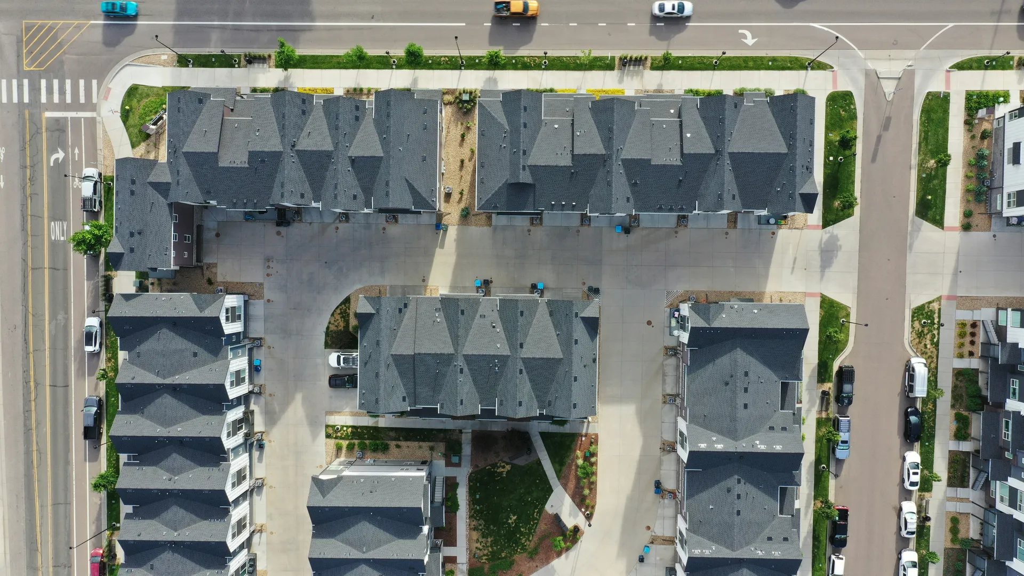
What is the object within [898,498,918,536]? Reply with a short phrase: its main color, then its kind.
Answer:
white car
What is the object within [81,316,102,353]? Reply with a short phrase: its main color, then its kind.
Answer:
white car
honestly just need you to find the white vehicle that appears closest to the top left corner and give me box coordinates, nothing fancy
[78,168,101,213]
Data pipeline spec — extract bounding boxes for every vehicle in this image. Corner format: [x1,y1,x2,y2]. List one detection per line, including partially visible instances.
[79,395,101,441]
[493,0,539,21]
[81,316,102,353]
[329,351,358,370]
[898,498,918,536]
[827,502,849,548]
[834,364,855,407]
[896,545,918,576]
[830,414,851,457]
[653,0,693,19]
[828,551,846,576]
[901,448,921,488]
[330,372,358,392]
[902,404,922,442]
[903,354,926,398]
[97,0,135,18]
[86,546,107,576]
[78,168,101,213]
